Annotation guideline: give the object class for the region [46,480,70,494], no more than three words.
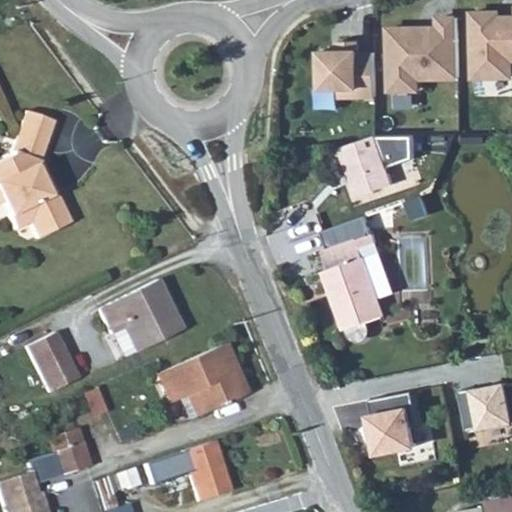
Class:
vehicle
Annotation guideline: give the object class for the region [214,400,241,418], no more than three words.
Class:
vehicle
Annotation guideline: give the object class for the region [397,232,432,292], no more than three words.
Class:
swimming pool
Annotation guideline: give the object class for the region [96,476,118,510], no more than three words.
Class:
building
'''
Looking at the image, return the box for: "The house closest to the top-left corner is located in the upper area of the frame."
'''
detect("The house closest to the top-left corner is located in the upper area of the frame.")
[0,110,74,238]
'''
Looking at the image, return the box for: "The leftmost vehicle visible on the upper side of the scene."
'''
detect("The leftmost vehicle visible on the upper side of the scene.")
[186,138,202,160]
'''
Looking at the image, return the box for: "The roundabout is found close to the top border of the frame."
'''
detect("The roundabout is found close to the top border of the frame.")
[136,15,250,129]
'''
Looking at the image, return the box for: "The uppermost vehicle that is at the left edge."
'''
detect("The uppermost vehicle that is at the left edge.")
[6,328,30,345]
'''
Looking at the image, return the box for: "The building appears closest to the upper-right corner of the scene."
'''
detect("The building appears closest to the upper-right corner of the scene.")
[464,10,512,82]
